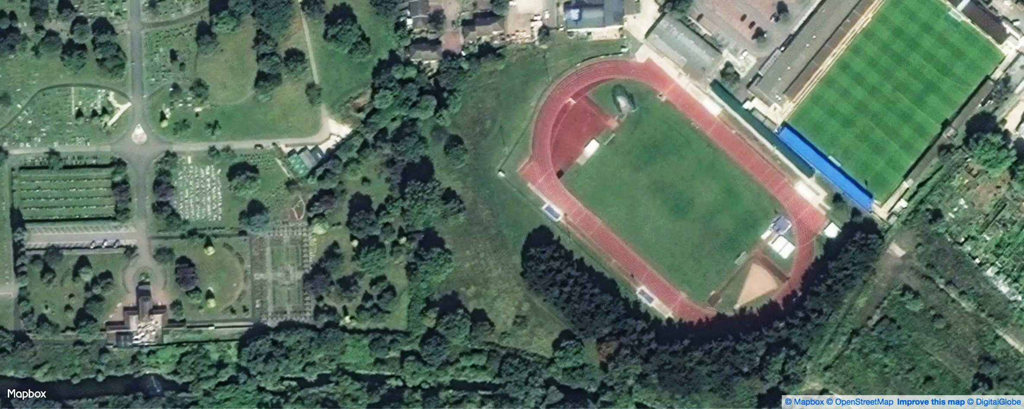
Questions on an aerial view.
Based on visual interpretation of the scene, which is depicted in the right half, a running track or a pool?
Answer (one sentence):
Visible in the right half is a running track.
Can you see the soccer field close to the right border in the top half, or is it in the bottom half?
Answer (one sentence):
The soccer field close to the right border sits in the top half of the picture.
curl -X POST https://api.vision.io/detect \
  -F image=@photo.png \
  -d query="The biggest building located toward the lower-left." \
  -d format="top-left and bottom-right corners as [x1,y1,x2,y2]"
[106,285,185,348]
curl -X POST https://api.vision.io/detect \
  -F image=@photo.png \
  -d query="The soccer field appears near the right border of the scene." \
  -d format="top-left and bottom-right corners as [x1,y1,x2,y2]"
[787,0,1004,202]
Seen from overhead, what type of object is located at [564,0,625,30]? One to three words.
building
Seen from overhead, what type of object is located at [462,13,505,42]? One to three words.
house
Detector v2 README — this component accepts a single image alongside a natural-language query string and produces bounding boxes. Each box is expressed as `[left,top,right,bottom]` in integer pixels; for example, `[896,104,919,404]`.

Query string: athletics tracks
[519,60,827,334]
